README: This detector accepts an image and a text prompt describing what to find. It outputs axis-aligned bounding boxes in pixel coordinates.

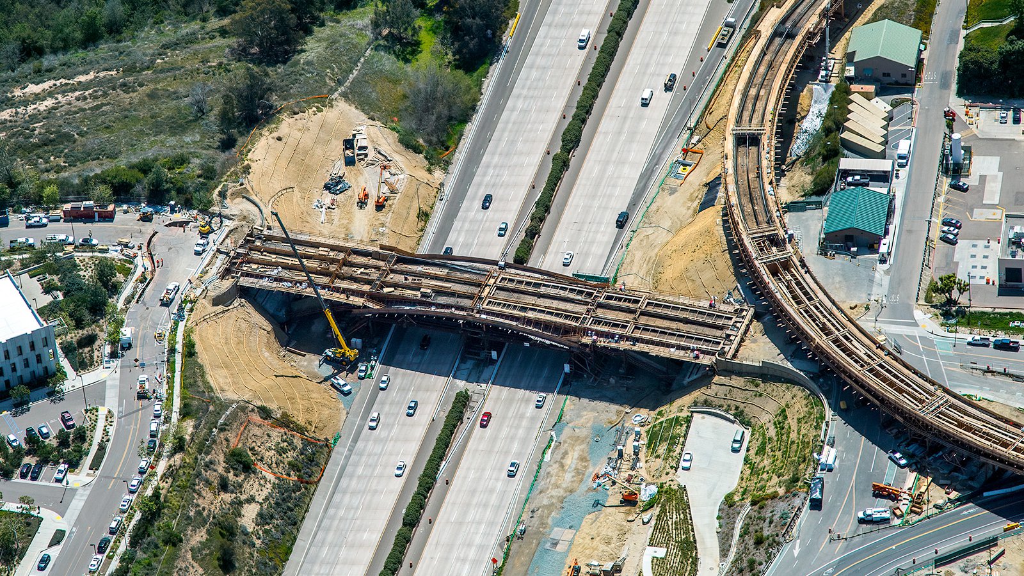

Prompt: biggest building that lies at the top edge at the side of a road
[847,19,922,84]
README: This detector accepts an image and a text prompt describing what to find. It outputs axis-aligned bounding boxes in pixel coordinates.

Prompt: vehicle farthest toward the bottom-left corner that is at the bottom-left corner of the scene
[37,554,50,570]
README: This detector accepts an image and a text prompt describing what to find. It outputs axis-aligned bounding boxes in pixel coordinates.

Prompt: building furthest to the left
[0,272,59,394]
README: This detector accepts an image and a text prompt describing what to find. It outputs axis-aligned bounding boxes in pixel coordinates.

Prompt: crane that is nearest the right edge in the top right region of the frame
[811,0,841,84]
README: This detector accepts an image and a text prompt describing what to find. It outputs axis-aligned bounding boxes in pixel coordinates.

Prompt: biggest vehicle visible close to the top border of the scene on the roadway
[713,21,731,45]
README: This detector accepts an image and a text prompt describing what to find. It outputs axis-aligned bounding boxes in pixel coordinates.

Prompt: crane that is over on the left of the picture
[268,211,364,374]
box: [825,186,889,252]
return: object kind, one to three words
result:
building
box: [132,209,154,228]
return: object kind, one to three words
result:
work vehicle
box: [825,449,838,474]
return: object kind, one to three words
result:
vehicle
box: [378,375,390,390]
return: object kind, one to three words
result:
vehicle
